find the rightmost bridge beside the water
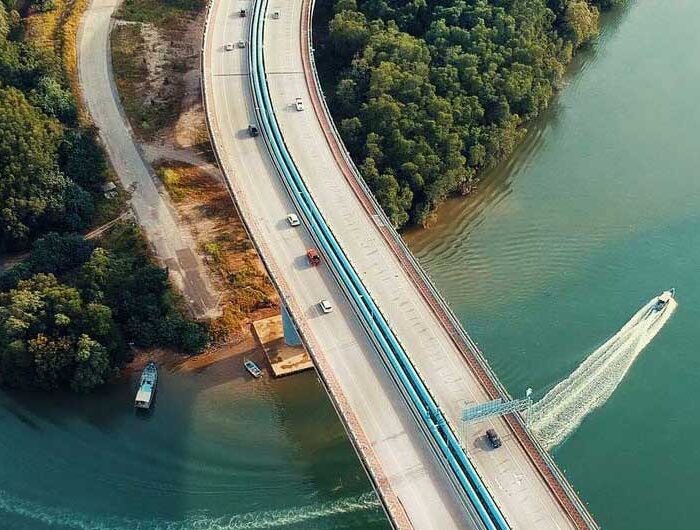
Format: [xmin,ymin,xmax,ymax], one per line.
[200,0,606,530]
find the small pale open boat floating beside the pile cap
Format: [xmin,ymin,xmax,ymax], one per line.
[246,354,262,377]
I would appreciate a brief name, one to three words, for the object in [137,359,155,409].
boat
